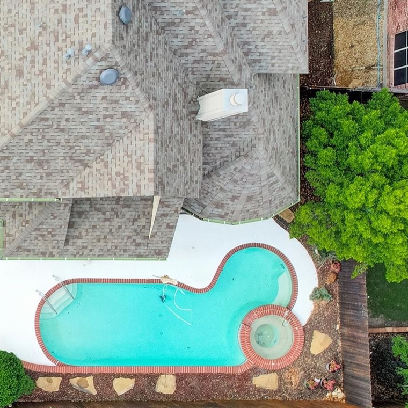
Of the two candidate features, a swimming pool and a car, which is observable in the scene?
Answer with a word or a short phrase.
swimming pool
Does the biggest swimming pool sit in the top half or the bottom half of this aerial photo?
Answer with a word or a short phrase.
bottom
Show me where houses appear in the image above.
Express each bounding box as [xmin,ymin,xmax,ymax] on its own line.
[0,0,335,262]
[385,0,408,88]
